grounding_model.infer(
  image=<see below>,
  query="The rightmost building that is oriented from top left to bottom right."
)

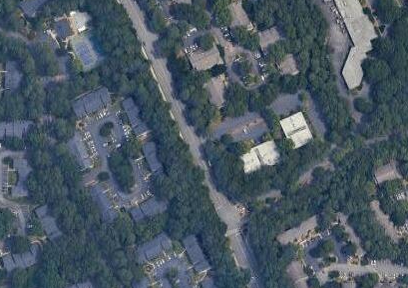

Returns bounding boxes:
[370,200,402,244]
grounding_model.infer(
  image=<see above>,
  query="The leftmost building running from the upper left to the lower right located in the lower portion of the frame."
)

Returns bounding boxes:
[33,205,61,240]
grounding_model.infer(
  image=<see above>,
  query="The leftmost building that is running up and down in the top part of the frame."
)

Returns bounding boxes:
[5,62,20,95]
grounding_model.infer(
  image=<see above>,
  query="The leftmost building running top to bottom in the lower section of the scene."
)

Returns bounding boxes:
[13,156,31,196]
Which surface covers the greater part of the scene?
trees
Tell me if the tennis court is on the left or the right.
left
